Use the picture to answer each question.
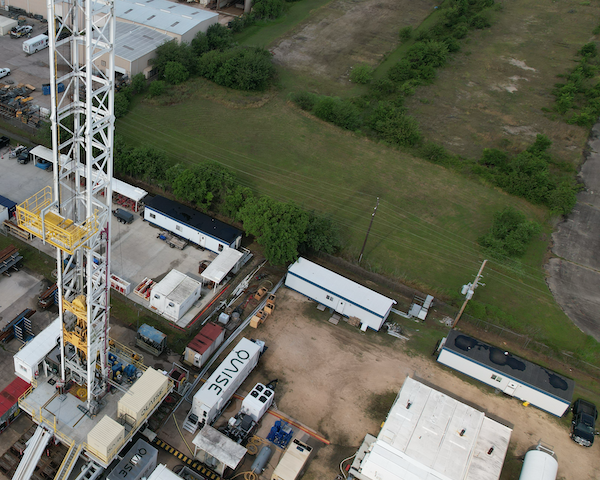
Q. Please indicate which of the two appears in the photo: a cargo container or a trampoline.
cargo container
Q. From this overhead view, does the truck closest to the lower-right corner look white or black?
black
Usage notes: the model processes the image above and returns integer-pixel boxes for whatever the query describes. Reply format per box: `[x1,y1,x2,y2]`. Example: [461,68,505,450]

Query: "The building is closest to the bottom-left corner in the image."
[14,305,77,390]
